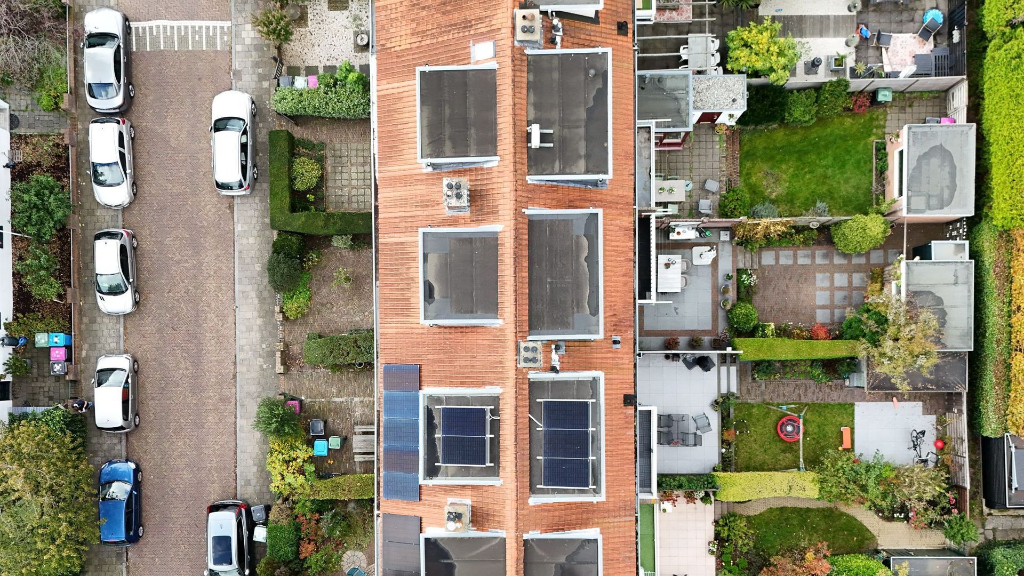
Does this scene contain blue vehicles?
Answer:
Yes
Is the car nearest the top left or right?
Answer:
left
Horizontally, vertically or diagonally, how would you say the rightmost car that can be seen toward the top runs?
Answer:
vertically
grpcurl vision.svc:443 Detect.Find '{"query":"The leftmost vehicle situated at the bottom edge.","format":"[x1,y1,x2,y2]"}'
[92,460,146,552]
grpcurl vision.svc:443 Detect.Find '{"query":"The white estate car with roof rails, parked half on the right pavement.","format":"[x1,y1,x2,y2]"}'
[206,87,261,195]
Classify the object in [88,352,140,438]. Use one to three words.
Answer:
car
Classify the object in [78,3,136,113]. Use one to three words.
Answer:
car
